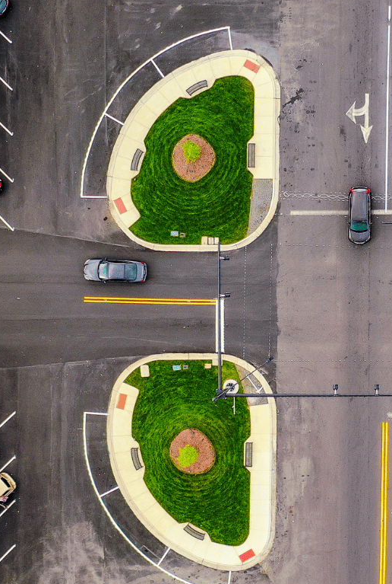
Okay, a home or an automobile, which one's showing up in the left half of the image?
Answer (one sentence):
Looking in the left half of the image, you will find an automobile.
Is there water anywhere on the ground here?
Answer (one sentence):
No, the picture contains no water.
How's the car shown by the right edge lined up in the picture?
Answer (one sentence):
The car shown by the right edge has been laid out up and down relative to the frame.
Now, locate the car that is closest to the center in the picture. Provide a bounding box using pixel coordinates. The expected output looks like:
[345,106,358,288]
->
[85,255,149,284]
